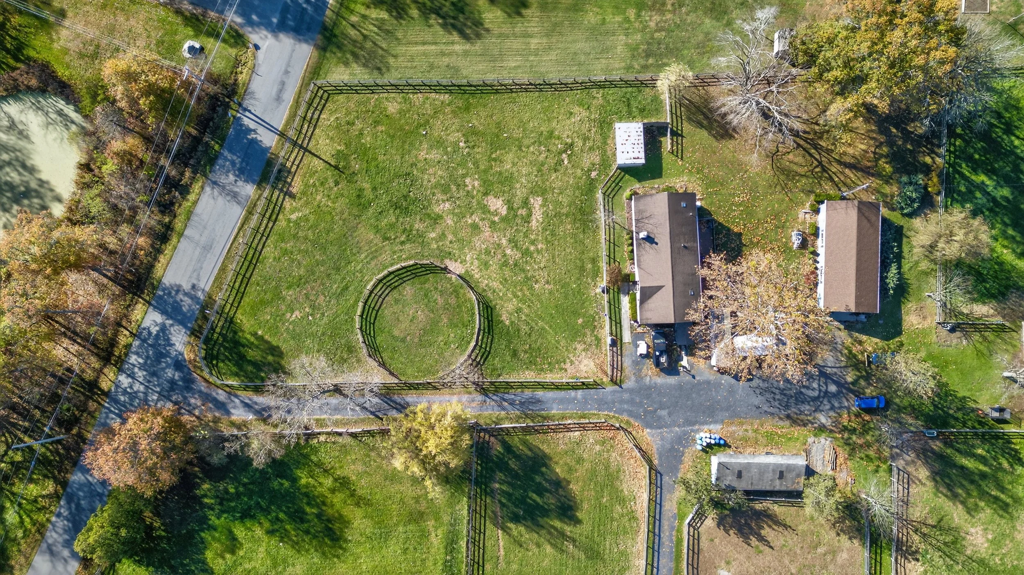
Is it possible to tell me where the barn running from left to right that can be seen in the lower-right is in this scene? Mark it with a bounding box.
[712,451,808,492]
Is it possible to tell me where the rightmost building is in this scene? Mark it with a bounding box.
[816,199,882,313]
